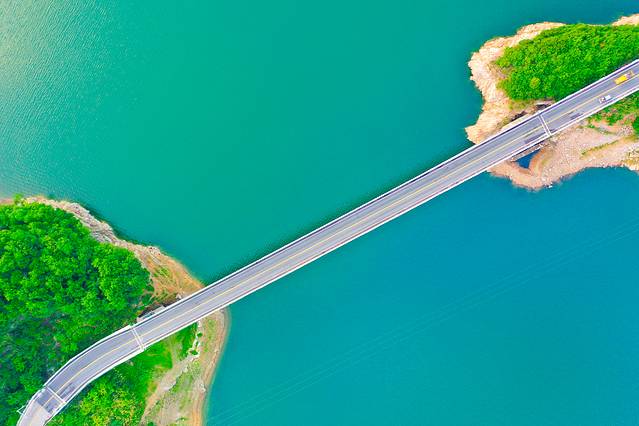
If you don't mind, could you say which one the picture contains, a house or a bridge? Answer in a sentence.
This aerial view contains a bridge.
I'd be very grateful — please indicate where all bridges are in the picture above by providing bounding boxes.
[31,112,553,415]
